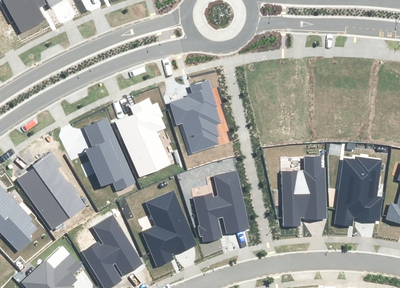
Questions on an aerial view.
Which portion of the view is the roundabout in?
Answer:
top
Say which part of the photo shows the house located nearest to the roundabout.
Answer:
center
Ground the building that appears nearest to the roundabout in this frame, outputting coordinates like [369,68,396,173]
[170,80,222,155]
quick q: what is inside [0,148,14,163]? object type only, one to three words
vehicle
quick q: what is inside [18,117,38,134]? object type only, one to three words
vehicle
